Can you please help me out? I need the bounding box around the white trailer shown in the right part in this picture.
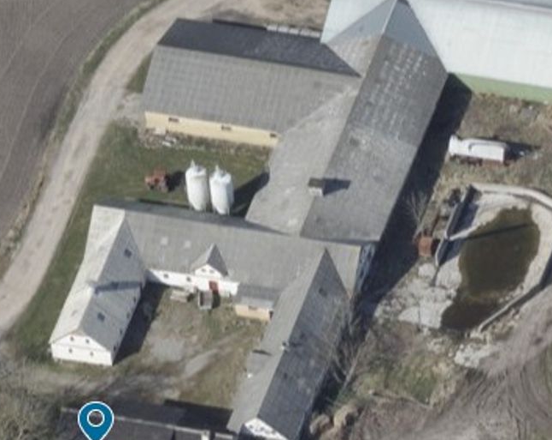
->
[449,132,517,167]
